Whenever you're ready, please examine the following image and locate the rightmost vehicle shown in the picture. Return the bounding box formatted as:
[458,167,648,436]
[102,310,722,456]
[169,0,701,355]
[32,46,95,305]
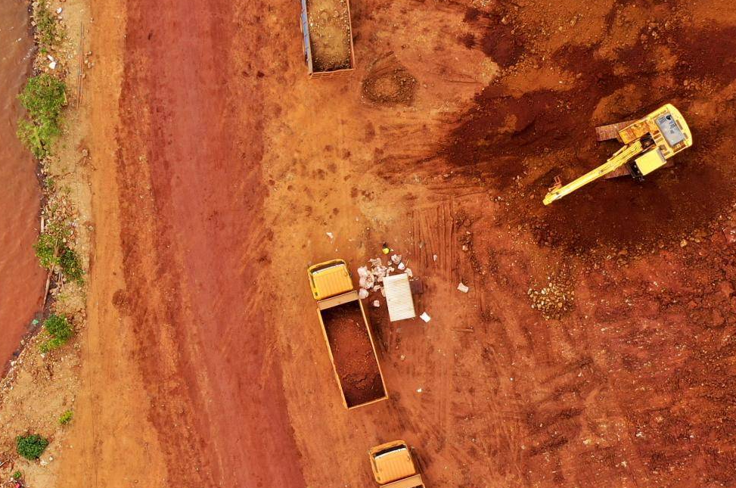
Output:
[538,104,691,203]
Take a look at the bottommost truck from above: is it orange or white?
orange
